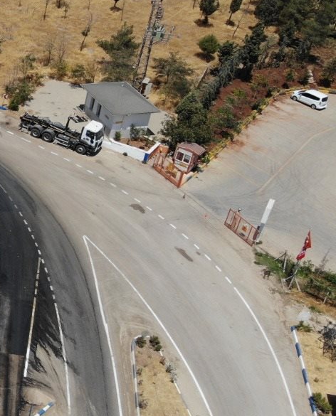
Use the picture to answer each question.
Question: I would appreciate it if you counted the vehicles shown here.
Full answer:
In total, 2 vehicles can be seen.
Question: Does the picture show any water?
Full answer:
No, the scene doesn't show any water.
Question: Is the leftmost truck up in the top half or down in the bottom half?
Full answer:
The top half of the photo is where the leftmost truck is.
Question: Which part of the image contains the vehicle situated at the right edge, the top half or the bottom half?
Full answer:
The vehicle situated at the right edge is in the top half of the image.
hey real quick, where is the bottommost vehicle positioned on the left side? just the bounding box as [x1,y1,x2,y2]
[24,115,108,156]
